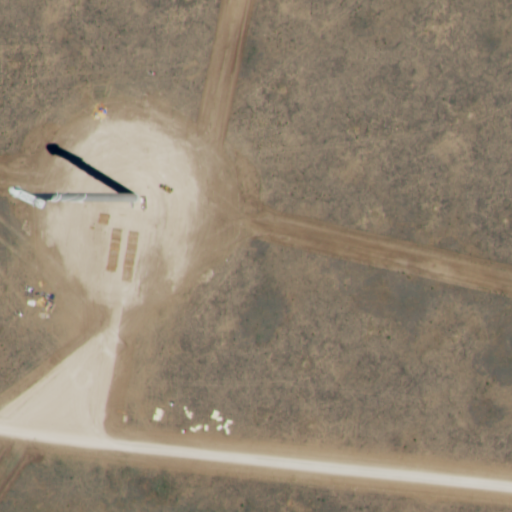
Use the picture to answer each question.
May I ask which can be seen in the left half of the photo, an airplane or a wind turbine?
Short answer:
wind turbine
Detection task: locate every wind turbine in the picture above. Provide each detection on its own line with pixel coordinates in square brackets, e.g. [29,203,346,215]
[8,184,140,210]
